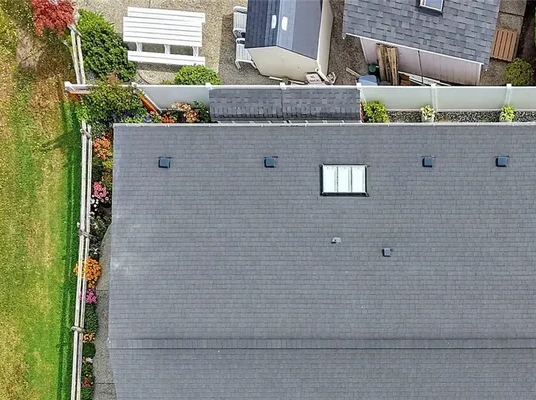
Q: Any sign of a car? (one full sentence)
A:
No, this view has no car in it.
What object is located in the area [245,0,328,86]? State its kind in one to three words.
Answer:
shed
